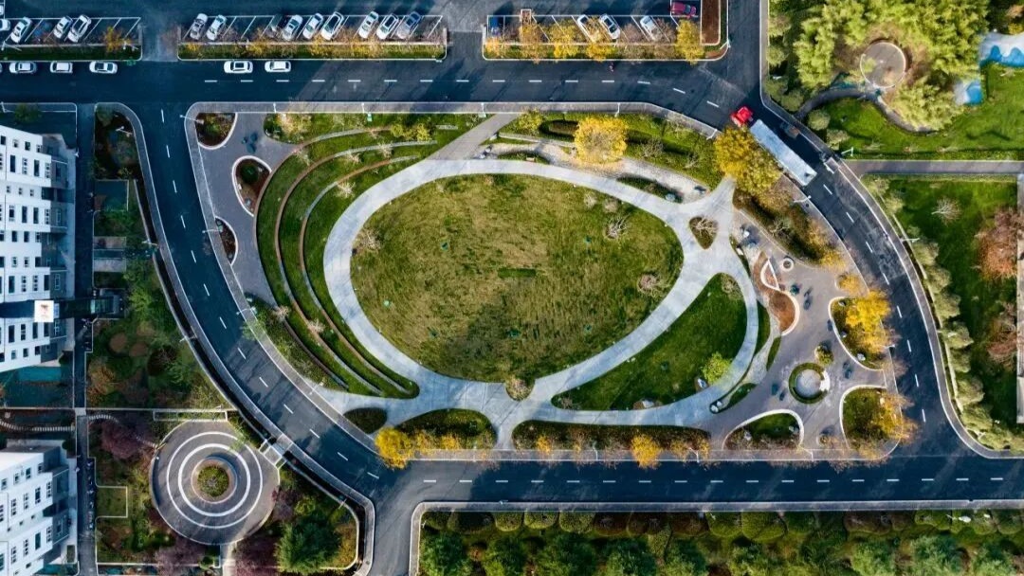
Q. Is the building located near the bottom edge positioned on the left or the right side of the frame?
left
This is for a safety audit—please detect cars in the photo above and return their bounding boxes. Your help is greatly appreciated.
[188,12,211,42]
[0,19,11,32]
[358,11,380,40]
[9,61,40,75]
[399,11,421,40]
[668,2,698,18]
[52,12,75,42]
[224,59,254,74]
[488,12,500,37]
[10,15,34,45]
[206,13,228,43]
[282,13,305,43]
[575,14,595,44]
[323,12,344,41]
[377,12,399,42]
[68,14,93,44]
[598,13,621,42]
[50,61,76,74]
[264,11,287,41]
[639,14,661,43]
[265,60,292,74]
[89,61,120,75]
[302,12,324,41]
[32,16,54,40]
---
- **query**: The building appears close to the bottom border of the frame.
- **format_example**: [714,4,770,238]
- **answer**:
[0,448,71,576]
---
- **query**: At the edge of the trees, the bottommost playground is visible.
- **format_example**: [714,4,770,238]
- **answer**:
[954,79,983,105]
